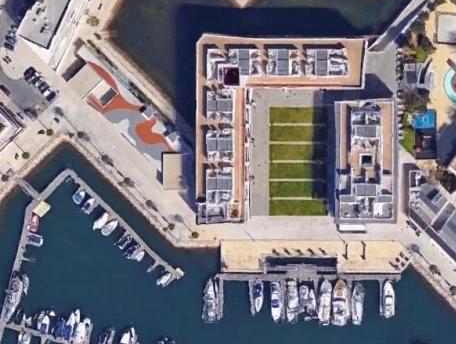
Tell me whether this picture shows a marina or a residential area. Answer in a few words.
marina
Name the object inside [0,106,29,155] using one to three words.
building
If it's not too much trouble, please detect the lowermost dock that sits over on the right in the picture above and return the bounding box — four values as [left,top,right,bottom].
[215,262,401,324]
